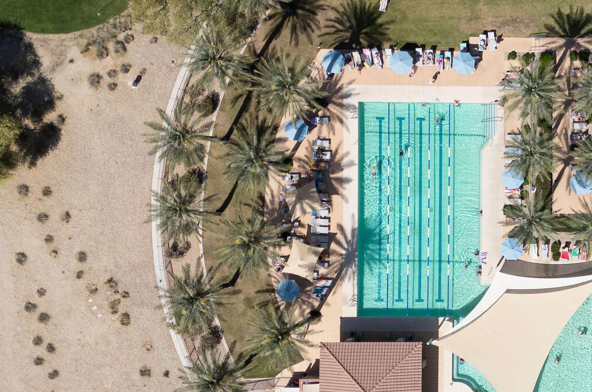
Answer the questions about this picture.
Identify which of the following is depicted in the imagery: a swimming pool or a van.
swimming pool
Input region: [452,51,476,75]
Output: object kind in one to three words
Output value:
umbrella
